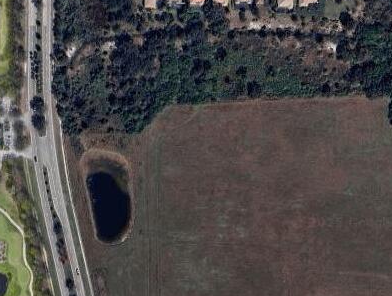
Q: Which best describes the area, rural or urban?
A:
rural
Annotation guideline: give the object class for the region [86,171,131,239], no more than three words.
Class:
pond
